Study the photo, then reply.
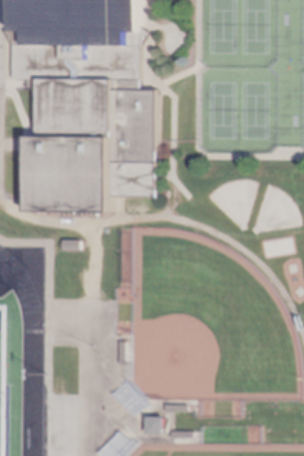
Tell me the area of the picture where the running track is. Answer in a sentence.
You can find the running track in the bottom left area of the picture.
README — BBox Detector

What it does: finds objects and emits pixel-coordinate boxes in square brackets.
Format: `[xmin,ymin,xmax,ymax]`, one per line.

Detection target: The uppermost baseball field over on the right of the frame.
[134,228,304,401]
